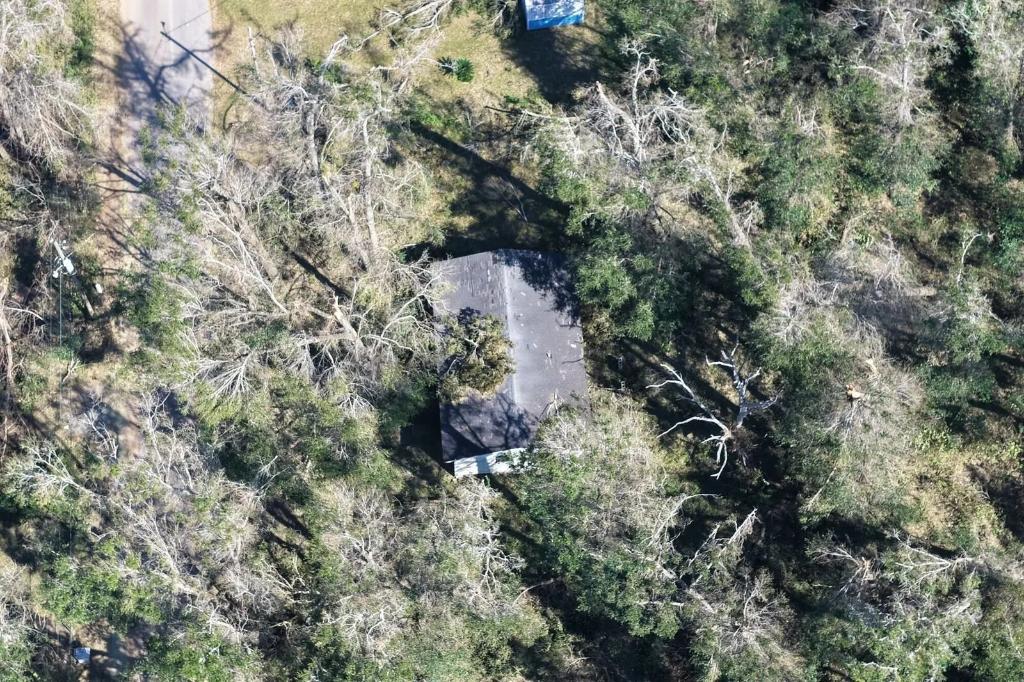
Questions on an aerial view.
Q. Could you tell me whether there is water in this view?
No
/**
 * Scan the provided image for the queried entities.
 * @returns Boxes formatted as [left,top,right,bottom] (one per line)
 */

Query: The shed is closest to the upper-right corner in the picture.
[522,0,586,33]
